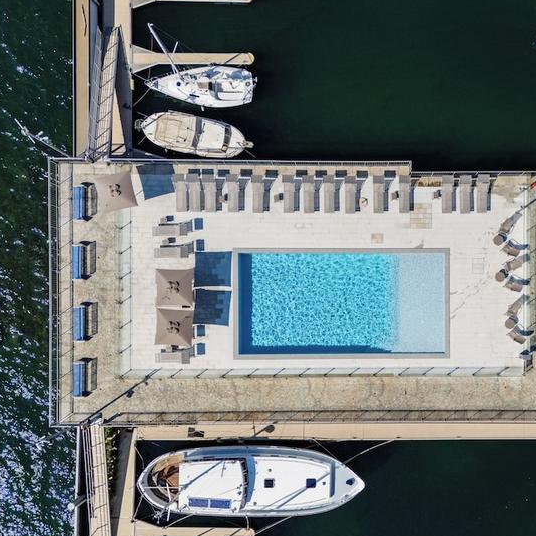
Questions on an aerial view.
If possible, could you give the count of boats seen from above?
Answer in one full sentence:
Looking from above, you can make out 3 boats.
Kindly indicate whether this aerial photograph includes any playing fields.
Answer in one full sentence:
No, no playing field can be seen from above.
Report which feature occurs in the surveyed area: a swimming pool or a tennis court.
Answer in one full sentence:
It is a swimming pool that can be seen here.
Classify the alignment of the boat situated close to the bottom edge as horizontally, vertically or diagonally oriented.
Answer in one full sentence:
In this picture, the boat situated close to the bottom edge is oriented horizontally.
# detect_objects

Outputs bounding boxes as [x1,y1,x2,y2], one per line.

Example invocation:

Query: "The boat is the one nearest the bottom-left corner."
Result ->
[134,438,391,530]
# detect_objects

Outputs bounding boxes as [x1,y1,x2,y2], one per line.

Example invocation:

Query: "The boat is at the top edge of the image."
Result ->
[131,22,259,143]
